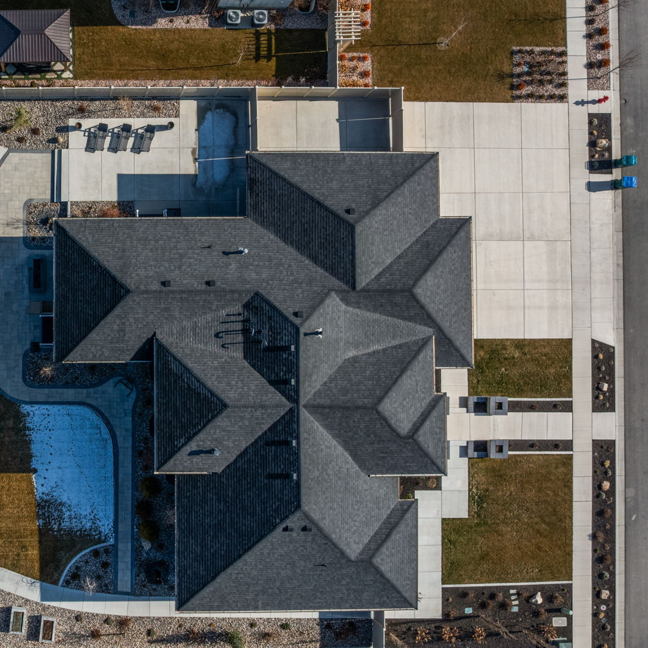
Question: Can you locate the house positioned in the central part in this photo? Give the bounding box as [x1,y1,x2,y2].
[50,149,475,614]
